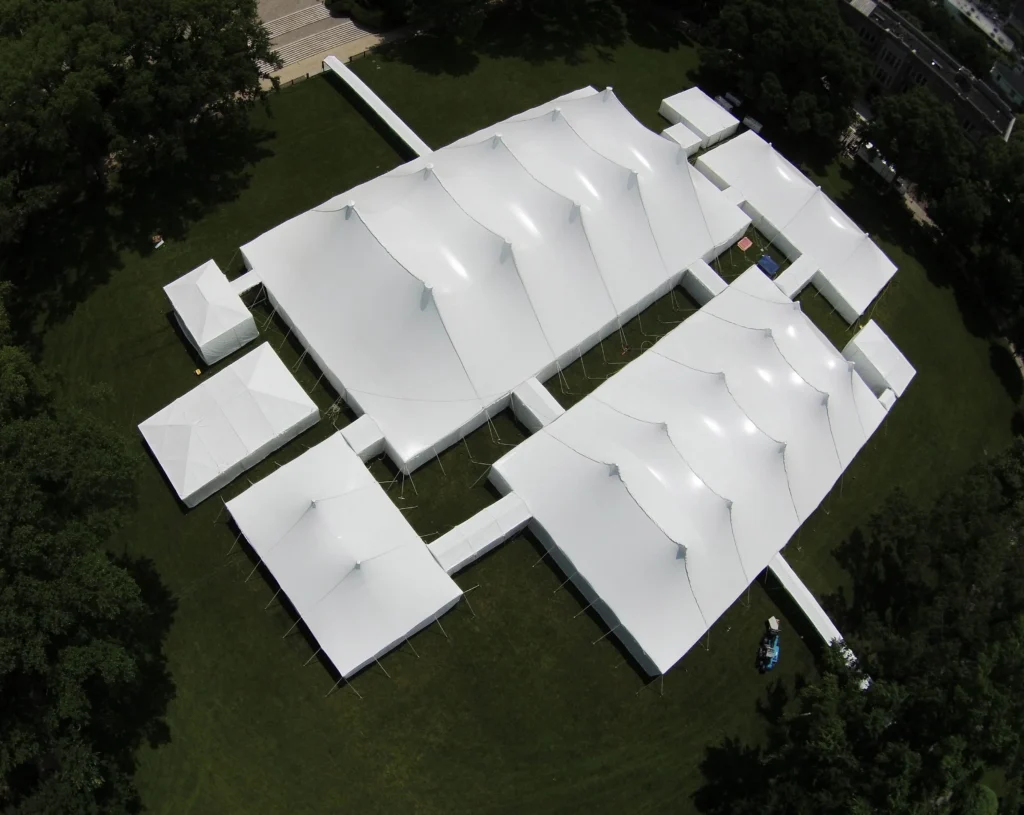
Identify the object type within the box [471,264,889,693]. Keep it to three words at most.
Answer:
tent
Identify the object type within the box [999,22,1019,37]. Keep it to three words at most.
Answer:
car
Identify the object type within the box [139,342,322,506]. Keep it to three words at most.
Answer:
tent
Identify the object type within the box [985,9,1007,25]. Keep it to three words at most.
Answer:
car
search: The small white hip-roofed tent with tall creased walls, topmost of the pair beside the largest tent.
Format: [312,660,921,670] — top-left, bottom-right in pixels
[165,260,257,361]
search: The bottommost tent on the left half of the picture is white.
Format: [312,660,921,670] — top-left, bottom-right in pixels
[209,433,476,699]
